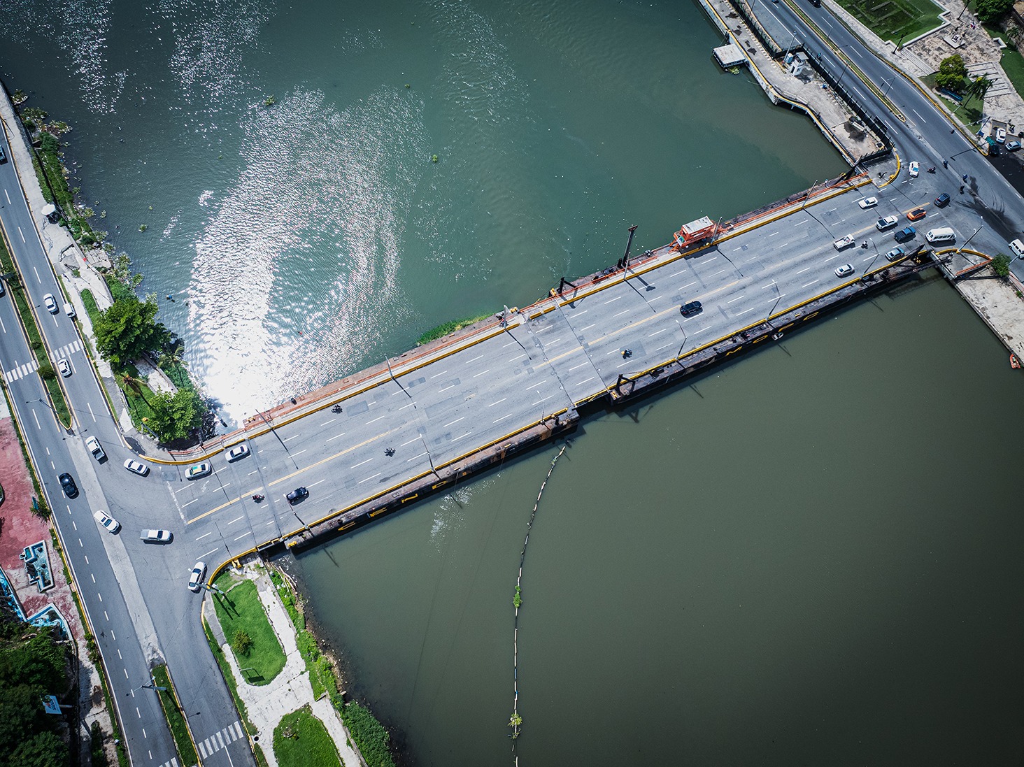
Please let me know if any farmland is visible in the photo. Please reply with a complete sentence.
No, there is no farmland in the image.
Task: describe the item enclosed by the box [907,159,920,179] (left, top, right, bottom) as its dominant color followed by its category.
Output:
white vehicle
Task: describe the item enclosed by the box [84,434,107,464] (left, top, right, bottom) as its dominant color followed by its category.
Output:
white truck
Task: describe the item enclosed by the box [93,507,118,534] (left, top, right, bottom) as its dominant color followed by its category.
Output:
white car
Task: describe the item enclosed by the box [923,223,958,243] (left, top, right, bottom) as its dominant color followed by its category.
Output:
white vehicle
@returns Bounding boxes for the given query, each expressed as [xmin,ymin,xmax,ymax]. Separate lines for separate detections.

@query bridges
[162,170,933,552]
